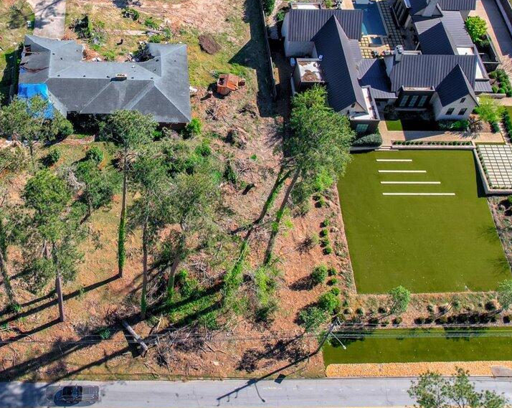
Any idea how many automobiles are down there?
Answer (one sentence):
Only 1 automobile is visible.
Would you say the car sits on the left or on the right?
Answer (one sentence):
The car is on the left side of the image.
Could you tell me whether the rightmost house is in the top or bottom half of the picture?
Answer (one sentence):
You can find the rightmost house in the top half.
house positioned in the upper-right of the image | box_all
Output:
[278,0,494,135]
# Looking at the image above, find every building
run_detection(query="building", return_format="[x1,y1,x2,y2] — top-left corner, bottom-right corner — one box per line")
[278,0,494,135]
[16,35,190,131]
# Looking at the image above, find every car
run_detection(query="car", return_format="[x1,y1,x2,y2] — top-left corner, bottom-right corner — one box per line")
[57,384,97,405]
